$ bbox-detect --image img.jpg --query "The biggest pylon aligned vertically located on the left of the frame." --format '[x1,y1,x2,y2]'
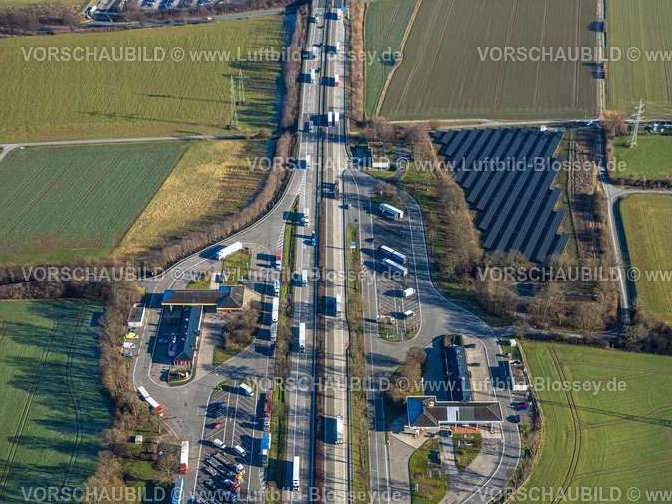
[227,75,239,130]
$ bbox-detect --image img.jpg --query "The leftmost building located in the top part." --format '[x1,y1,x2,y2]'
[368,142,389,170]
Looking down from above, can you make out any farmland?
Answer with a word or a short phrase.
Yes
